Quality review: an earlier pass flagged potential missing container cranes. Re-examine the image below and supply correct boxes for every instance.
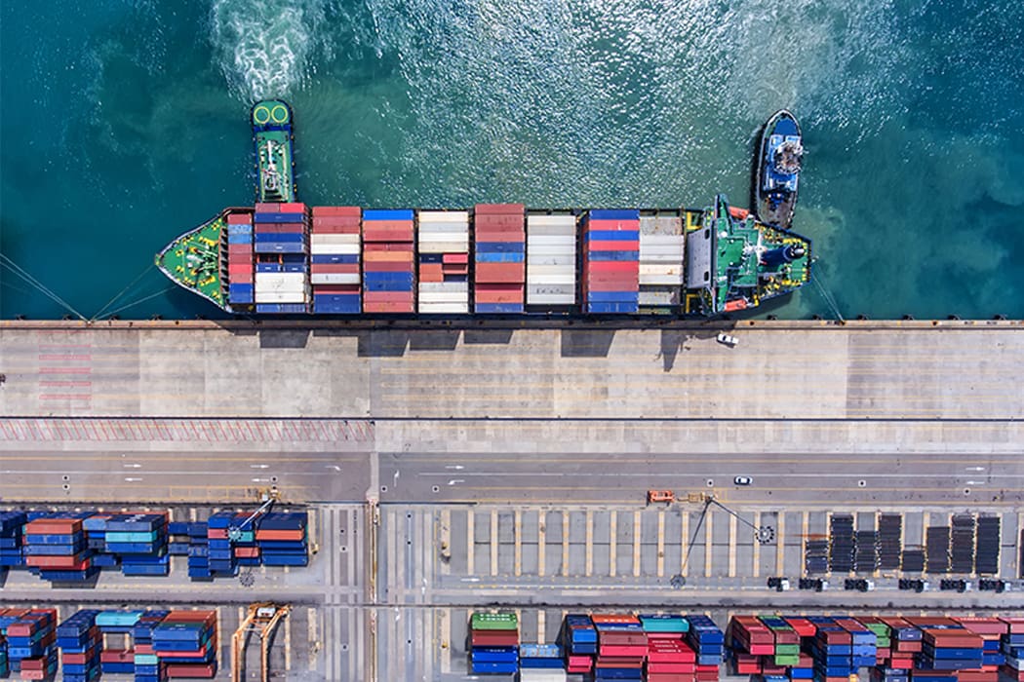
[231,606,288,682]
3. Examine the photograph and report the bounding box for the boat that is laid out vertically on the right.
[755,109,816,227]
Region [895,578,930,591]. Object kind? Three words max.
vehicle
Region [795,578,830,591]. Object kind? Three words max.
vehicle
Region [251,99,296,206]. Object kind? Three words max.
boat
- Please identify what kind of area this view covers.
port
